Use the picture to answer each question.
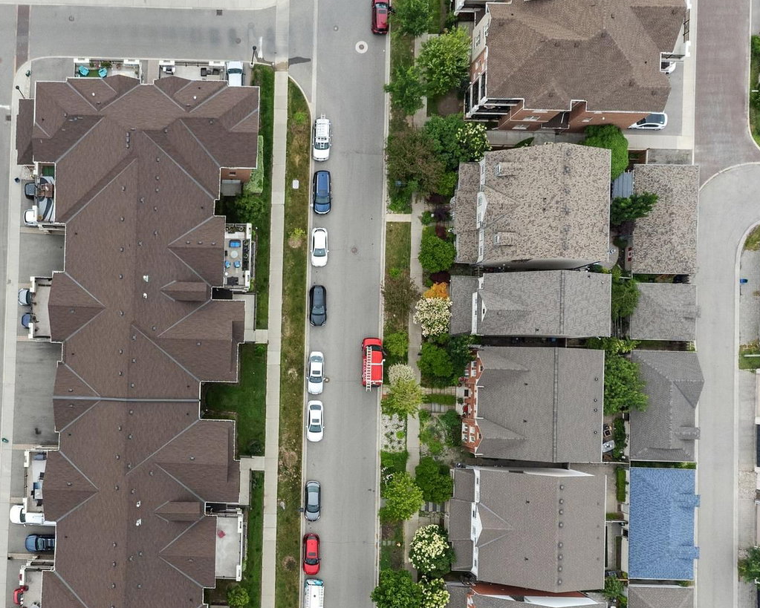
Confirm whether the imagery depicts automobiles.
Yes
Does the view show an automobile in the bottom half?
Yes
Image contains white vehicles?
Yes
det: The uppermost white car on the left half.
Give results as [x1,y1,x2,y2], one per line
[225,59,245,84]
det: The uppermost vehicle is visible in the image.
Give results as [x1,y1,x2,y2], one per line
[370,0,391,36]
